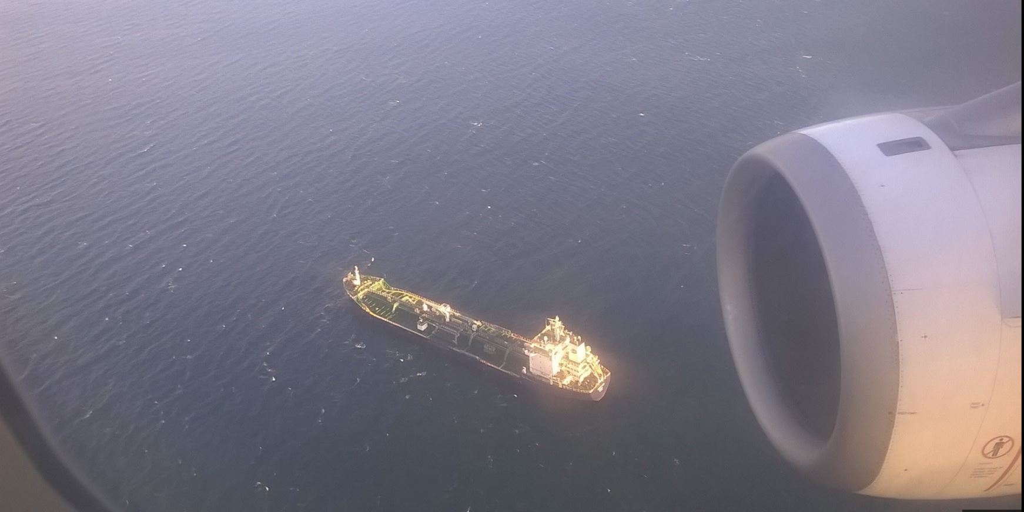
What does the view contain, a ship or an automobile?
ship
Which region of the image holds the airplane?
right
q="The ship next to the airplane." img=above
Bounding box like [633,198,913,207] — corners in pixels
[343,265,609,398]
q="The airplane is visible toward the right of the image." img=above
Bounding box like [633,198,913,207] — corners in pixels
[716,75,1024,500]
